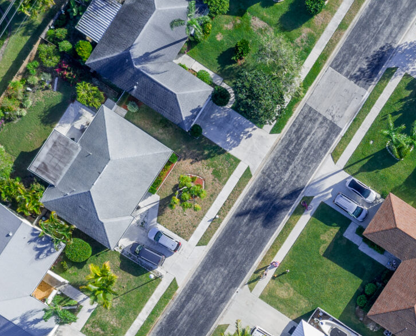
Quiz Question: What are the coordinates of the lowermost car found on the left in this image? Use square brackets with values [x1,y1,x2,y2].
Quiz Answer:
[128,240,168,270]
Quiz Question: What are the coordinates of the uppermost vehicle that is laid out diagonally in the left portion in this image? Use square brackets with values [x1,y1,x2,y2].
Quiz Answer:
[146,224,183,254]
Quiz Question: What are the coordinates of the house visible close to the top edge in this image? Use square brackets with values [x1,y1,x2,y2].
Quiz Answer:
[85,0,213,131]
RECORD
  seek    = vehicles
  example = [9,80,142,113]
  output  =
[146,224,183,254]
[331,190,370,224]
[248,322,275,336]
[343,175,379,206]
[128,240,168,270]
